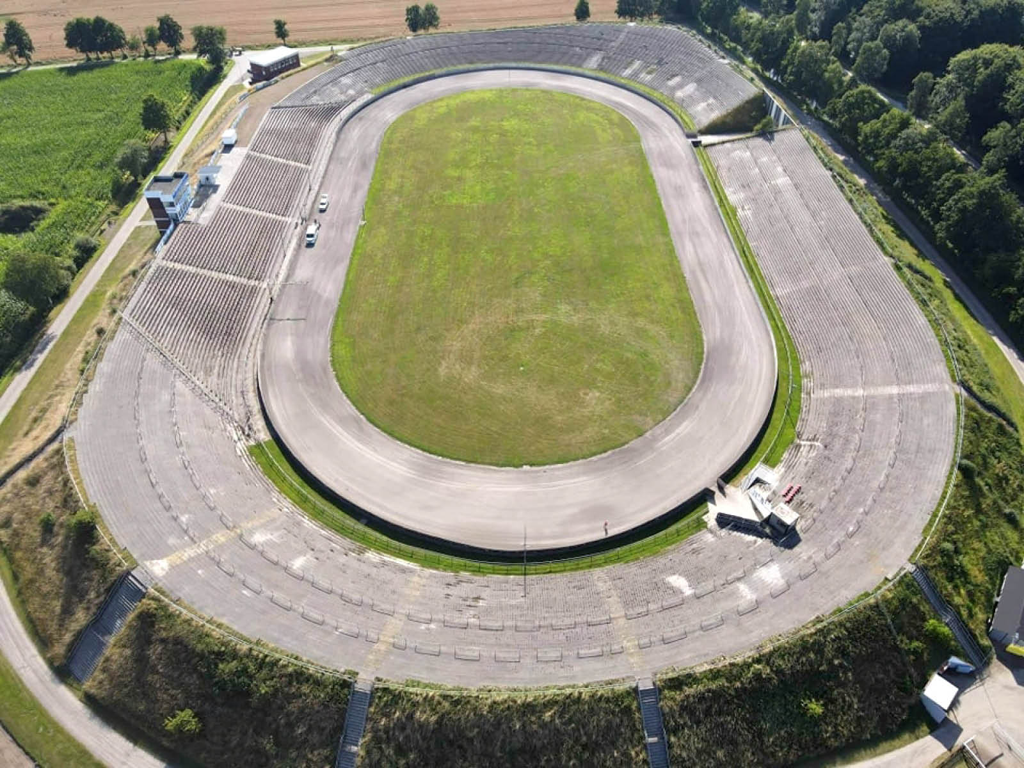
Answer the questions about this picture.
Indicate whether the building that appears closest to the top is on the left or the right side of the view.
left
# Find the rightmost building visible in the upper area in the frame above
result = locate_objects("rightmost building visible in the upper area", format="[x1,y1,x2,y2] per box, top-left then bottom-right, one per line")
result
[243,48,301,81]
